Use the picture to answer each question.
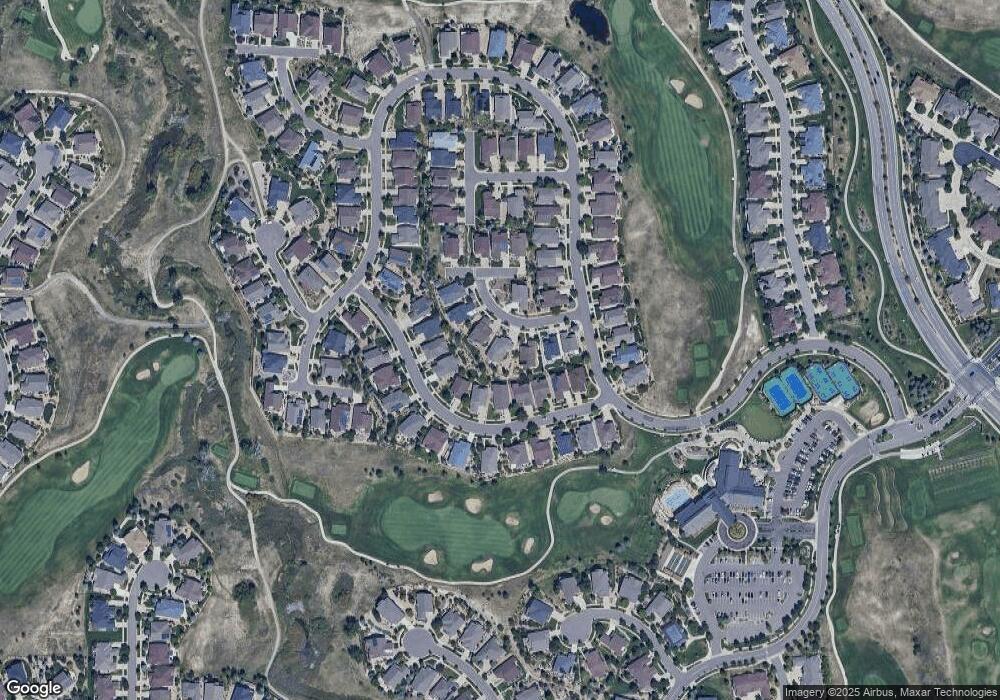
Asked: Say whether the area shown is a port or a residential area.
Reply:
residential area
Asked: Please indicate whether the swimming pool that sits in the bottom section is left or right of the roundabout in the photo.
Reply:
left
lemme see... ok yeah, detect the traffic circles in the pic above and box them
[718,511,759,552]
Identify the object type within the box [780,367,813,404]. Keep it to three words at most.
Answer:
tennis court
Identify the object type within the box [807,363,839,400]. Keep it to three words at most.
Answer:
sports court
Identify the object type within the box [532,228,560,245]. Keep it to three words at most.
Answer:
house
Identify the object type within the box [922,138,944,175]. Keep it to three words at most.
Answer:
house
